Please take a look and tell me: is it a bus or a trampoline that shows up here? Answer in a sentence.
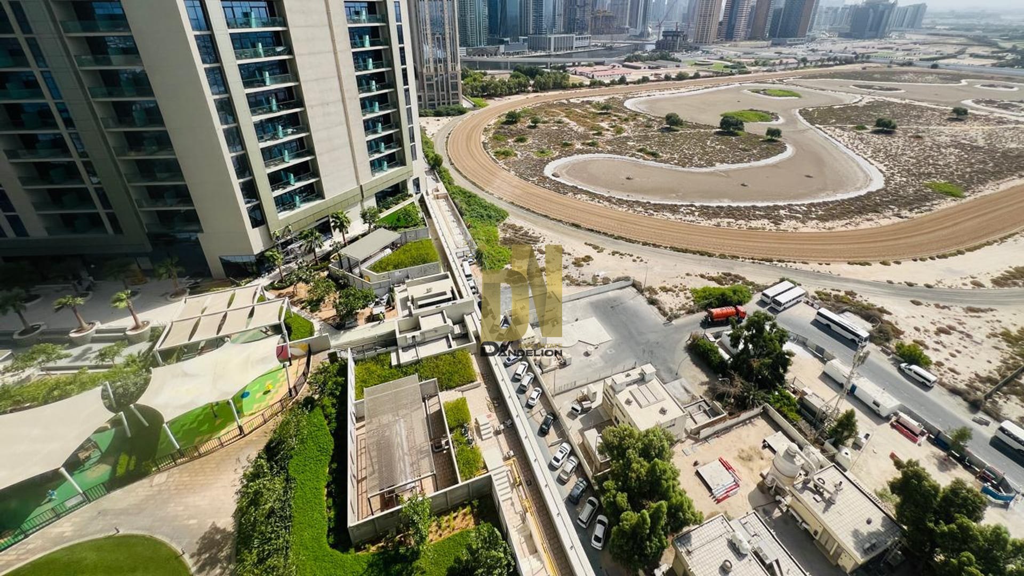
There is a bus in the scene.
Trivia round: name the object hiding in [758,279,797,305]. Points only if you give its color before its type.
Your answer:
white bus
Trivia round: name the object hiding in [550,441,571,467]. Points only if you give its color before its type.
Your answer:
white car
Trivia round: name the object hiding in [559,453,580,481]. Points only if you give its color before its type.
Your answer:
gray car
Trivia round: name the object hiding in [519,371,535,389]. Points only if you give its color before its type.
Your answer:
white car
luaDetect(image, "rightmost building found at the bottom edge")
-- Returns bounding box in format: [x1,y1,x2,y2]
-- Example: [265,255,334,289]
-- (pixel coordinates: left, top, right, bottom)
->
[784,463,908,576]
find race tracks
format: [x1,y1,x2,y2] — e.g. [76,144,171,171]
[448,64,1024,261]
